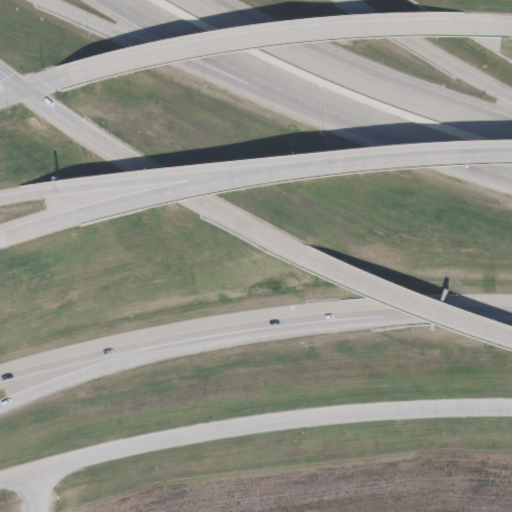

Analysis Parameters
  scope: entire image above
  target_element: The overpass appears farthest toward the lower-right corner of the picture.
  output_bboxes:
[307,250,512,350]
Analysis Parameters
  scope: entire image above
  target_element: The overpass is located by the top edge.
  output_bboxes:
[58,12,470,90]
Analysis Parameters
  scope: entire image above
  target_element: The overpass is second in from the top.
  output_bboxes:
[22,140,512,226]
